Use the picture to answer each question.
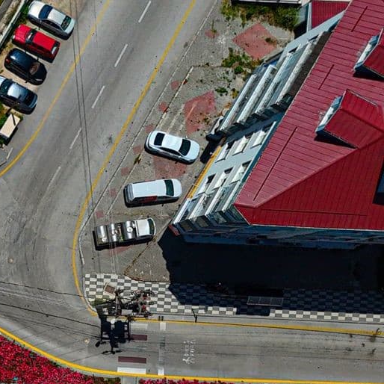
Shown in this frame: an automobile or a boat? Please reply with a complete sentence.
I can see an automobile in this picture.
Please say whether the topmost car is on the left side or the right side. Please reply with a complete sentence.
The topmost car sits on the left side.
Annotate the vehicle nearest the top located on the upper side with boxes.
[25,1,78,42]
